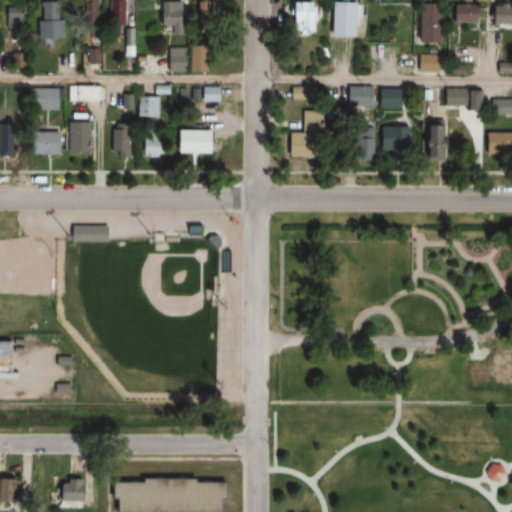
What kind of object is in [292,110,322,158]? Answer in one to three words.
house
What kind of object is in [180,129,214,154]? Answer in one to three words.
building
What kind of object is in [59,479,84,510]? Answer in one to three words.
house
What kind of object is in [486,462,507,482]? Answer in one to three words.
gazebo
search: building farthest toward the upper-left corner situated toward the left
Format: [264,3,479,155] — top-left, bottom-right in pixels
[8,7,24,38]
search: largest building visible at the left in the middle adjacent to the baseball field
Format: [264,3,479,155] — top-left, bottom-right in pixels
[73,226,109,242]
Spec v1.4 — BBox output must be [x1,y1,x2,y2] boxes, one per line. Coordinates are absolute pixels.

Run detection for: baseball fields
[57,236,218,398]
